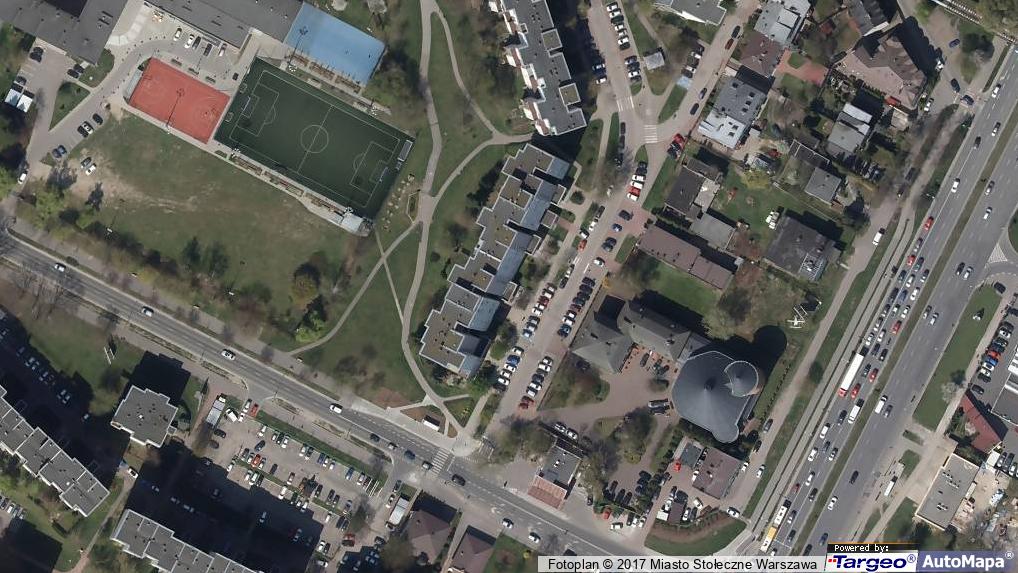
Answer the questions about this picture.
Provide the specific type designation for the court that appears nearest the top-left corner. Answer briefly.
basketball court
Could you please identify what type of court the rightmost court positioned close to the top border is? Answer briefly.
tennis court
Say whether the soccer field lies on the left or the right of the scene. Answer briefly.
left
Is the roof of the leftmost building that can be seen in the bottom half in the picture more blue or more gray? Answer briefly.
gray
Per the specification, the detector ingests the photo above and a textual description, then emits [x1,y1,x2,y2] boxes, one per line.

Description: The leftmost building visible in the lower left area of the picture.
[0,385,108,518]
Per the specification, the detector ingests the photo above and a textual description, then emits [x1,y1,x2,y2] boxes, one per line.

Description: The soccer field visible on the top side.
[216,58,413,217]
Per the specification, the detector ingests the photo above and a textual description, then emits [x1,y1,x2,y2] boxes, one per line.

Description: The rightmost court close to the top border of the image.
[285,1,386,85]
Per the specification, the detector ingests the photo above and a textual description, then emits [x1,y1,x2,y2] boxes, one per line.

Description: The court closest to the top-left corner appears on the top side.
[129,58,230,143]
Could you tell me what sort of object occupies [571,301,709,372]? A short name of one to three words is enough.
house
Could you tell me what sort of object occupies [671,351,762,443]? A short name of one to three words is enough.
building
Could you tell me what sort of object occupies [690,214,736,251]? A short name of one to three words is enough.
building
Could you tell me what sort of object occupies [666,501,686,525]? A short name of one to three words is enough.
shed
